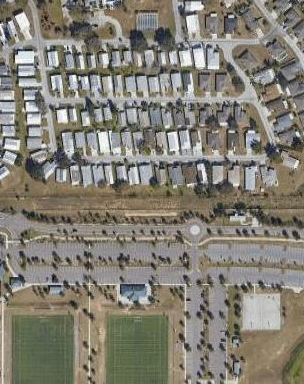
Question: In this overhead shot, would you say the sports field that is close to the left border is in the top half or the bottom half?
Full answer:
The sports field that is close to the left border is in the bottom half of the image.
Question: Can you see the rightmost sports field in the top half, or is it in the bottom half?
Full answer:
The rightmost sports field sits in the bottom half of the picture.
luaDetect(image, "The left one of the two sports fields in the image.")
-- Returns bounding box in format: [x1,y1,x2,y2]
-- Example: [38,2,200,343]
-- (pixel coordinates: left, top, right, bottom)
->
[13,315,73,384]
